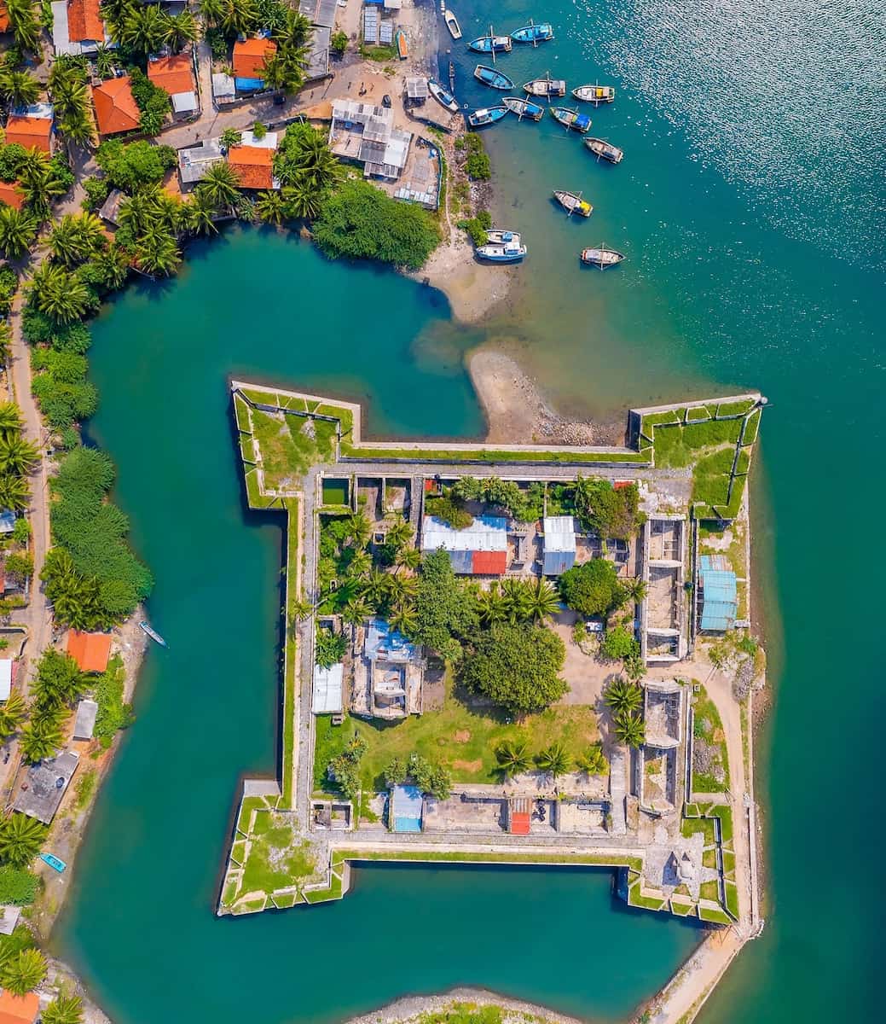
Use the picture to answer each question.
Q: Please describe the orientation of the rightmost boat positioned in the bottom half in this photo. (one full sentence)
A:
In this picture, the rightmost boat positioned in the bottom half is oriented diagonally.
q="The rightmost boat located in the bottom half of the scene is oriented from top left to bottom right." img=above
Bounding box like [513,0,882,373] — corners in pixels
[140,621,169,648]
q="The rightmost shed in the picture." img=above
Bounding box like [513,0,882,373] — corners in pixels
[698,555,736,630]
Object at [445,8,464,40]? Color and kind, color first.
white boat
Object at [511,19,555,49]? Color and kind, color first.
blue boat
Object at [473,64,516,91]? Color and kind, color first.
blue boat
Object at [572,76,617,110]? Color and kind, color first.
white boat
